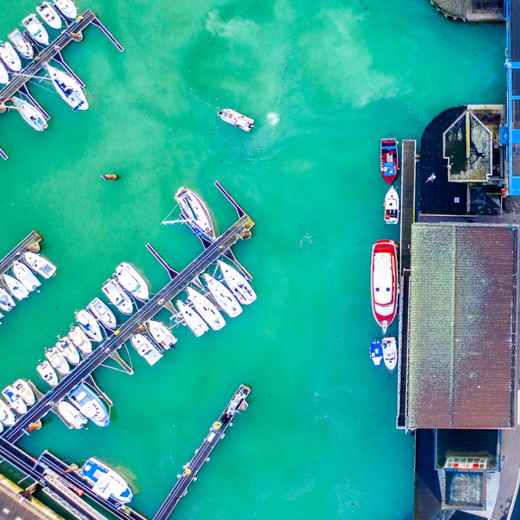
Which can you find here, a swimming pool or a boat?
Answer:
boat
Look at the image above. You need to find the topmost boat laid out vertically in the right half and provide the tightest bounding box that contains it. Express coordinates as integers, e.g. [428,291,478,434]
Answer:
[381,138,399,184]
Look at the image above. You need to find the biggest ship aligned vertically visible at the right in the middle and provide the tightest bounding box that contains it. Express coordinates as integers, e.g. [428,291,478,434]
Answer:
[370,238,402,338]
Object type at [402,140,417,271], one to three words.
pier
